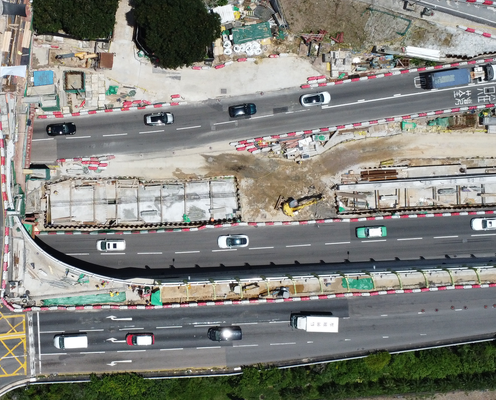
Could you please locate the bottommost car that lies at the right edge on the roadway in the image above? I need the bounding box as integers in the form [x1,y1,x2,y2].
[471,217,496,231]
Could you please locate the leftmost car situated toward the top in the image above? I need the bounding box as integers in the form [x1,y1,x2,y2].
[46,121,75,136]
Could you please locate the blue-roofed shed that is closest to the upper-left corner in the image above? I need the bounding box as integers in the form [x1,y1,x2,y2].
[34,71,55,85]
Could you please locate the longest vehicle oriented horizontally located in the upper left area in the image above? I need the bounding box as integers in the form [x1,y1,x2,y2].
[53,52,114,70]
